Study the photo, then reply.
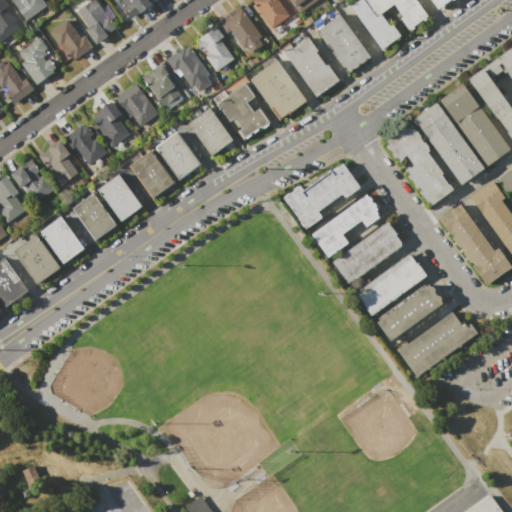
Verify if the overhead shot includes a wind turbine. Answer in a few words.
No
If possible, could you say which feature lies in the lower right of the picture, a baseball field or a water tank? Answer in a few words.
baseball field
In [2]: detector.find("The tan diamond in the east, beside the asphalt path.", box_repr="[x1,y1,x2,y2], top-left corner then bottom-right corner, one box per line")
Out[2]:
[338,378,416,460]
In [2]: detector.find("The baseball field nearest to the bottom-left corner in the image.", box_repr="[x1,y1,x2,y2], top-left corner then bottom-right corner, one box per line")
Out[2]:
[52,346,122,416]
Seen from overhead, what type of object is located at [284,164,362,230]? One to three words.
building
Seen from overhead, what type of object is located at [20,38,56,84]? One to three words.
house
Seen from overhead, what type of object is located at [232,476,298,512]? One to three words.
baseball field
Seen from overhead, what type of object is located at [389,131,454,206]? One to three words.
building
